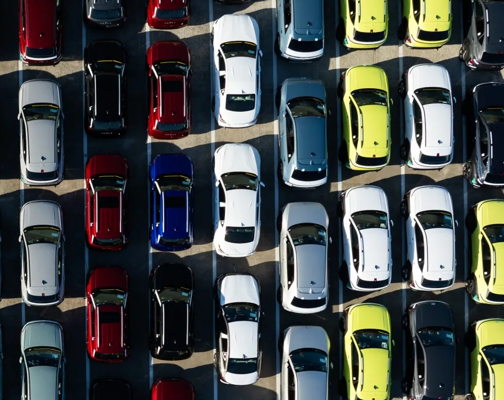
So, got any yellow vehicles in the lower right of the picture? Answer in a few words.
Yes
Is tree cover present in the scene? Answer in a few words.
No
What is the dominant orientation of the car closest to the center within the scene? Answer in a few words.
vertically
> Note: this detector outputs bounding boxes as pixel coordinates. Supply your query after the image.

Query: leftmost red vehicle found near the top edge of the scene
[19,0,63,66]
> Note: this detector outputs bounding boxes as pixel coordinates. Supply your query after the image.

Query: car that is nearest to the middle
[210,143,262,258]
